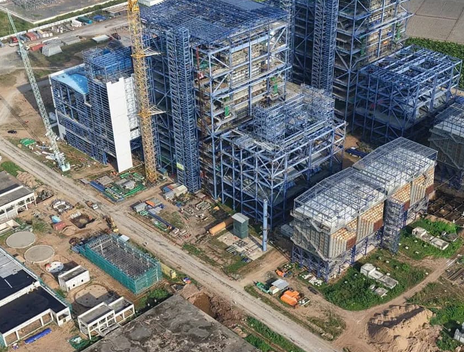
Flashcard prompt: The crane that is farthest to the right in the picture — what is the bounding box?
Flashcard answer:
[128,0,174,183]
